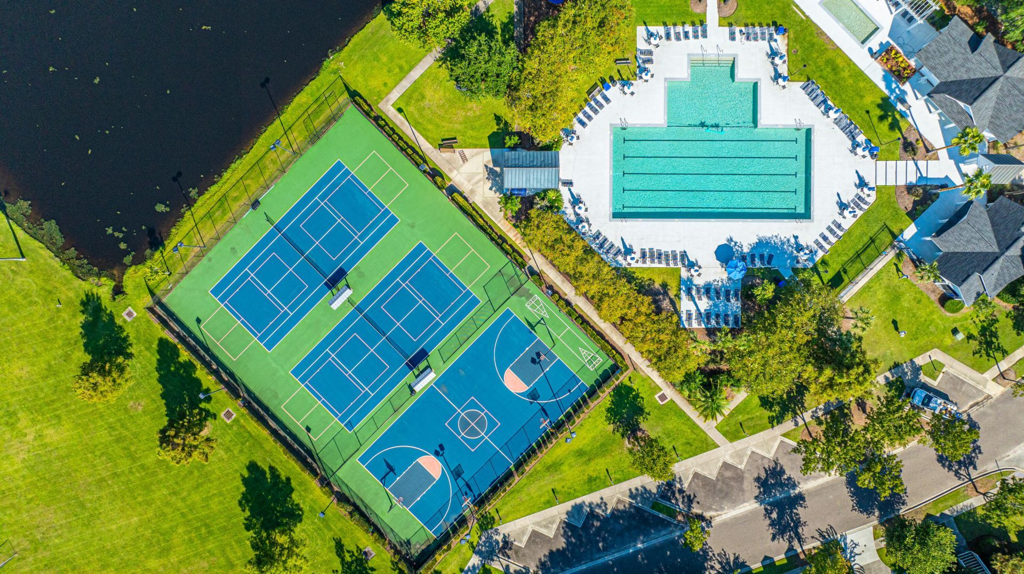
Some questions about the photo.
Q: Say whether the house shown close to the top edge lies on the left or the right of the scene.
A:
right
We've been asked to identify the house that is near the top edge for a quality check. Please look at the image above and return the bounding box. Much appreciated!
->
[910,8,1024,145]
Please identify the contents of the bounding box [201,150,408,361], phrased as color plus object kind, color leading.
blue tennis court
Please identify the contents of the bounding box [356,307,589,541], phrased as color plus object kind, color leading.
blue basketball court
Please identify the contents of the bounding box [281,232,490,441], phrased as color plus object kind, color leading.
blue tennis court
